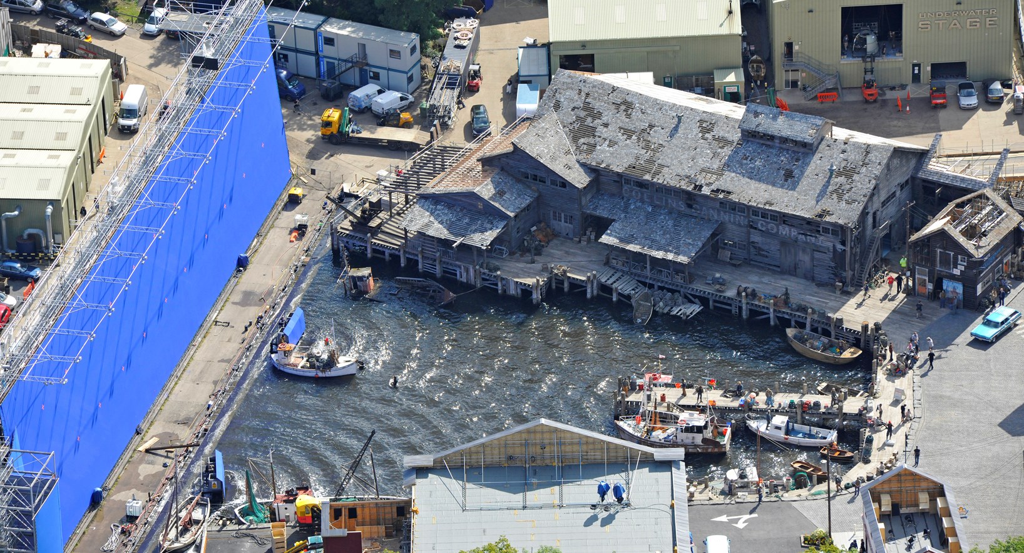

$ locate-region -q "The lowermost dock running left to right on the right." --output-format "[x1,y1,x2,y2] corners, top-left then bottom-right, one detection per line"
[613,381,869,438]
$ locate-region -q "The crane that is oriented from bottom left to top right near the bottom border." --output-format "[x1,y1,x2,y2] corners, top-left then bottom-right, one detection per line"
[292,430,376,537]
